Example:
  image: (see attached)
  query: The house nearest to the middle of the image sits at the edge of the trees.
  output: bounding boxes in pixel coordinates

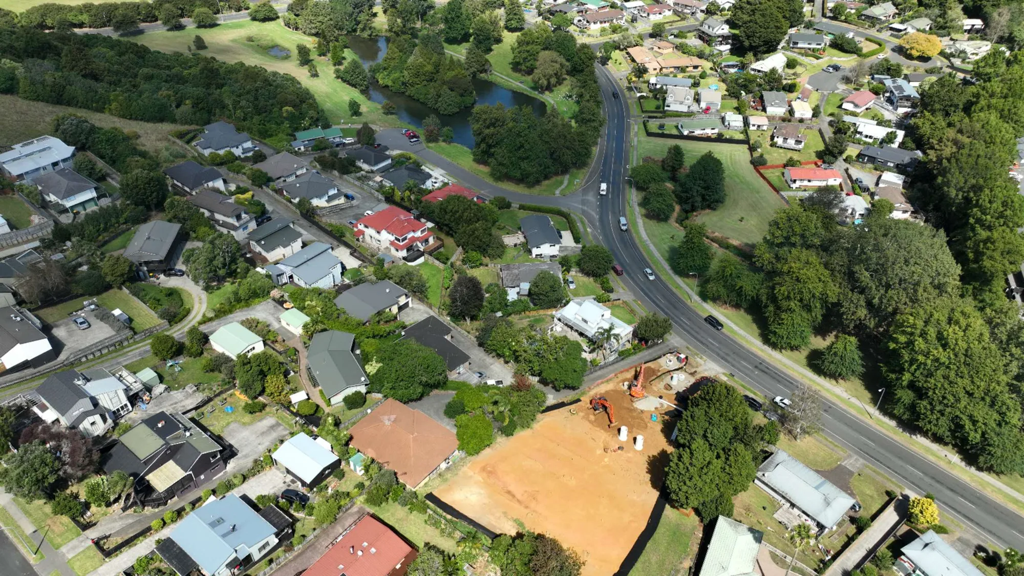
[499,263,562,303]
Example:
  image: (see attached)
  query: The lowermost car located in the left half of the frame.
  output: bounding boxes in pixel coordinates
[281,486,306,502]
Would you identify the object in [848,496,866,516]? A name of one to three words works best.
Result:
car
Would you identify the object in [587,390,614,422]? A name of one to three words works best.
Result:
work vehicle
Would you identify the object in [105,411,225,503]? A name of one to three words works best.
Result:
house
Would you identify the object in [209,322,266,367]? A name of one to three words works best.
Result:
building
